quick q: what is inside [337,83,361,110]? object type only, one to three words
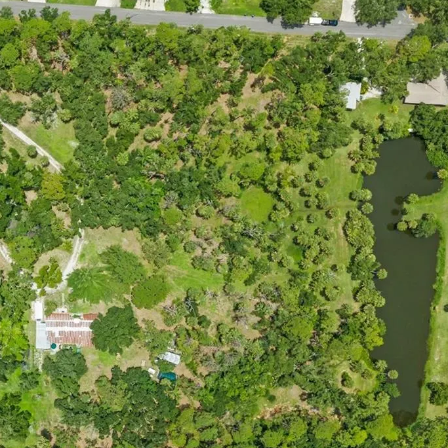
building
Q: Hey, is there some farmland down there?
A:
No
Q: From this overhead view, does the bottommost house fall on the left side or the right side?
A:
left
